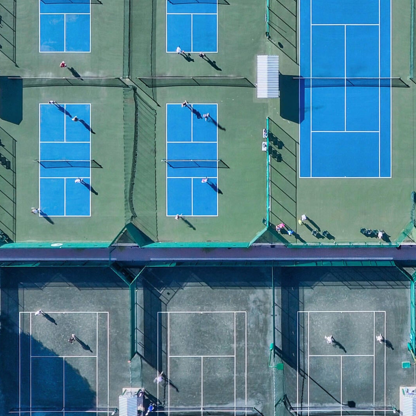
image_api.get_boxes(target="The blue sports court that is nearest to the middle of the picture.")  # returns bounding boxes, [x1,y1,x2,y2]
[167,103,218,217]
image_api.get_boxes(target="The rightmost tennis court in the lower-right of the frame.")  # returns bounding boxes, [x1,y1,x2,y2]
[298,311,386,416]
